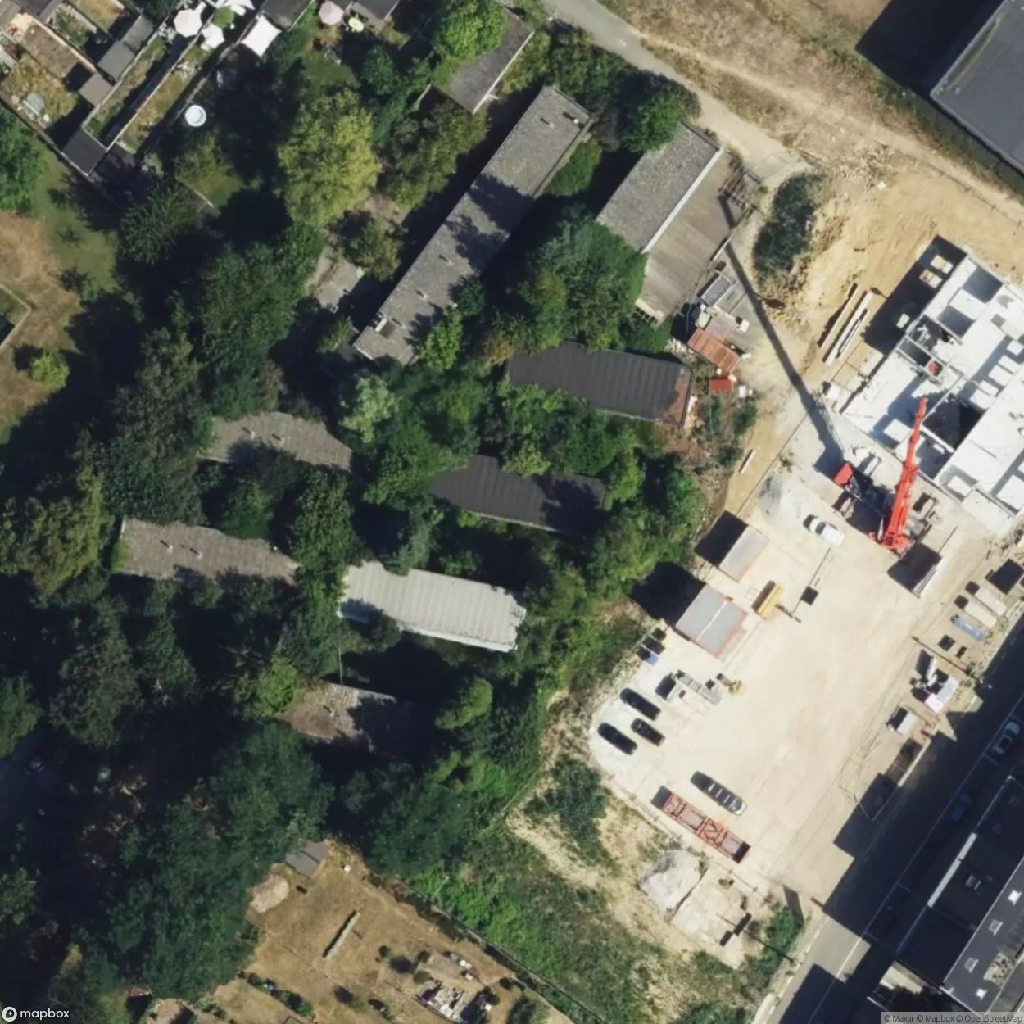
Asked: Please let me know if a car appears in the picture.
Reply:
Yes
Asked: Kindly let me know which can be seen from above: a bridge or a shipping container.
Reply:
shipping container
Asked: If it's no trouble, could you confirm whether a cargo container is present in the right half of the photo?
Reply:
Yes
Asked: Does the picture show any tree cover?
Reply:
Yes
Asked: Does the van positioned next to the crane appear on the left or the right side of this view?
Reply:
right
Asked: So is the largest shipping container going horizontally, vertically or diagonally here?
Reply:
diagonally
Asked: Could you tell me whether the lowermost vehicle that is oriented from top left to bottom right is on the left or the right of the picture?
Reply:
right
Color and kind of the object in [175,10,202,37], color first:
white umbrella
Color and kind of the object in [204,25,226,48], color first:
white umbrella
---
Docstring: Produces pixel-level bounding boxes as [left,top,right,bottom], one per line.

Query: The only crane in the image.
[834,330,944,559]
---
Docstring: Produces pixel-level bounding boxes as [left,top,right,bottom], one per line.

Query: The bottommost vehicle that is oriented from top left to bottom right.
[698,776,745,813]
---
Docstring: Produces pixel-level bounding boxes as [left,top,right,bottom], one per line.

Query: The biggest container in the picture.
[686,330,742,379]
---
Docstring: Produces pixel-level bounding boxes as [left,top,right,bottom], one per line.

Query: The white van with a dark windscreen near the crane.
[808,515,848,547]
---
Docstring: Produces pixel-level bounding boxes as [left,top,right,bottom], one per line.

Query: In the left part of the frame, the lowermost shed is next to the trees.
[286,839,329,875]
